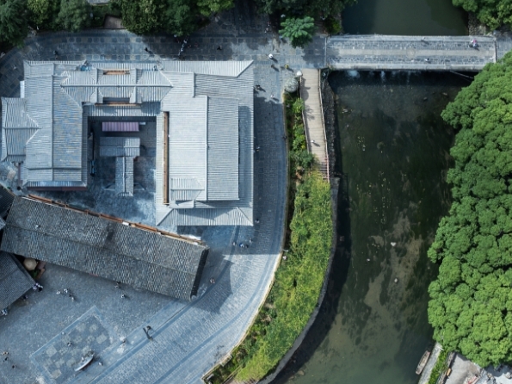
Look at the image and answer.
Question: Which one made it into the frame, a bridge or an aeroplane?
bridge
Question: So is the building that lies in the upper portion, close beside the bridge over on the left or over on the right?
left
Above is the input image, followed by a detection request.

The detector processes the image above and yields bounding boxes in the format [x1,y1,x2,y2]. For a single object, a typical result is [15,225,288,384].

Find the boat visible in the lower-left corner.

[73,355,95,373]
